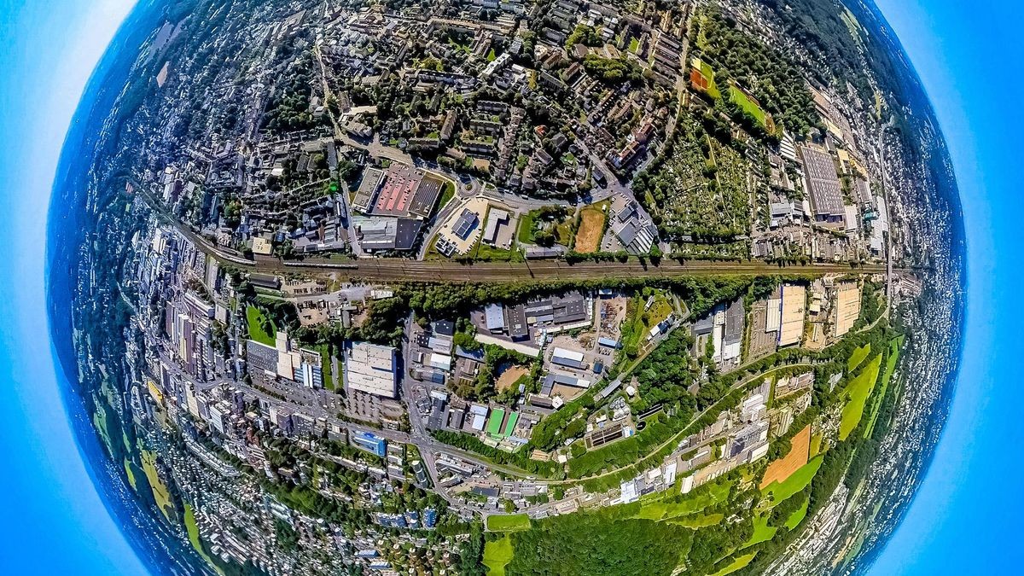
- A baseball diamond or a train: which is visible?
train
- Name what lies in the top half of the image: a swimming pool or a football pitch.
football pitch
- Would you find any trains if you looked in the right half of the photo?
No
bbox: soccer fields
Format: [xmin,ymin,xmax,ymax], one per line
[727,82,776,132]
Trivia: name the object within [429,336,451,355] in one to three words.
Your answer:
building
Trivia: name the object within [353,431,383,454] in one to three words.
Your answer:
building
